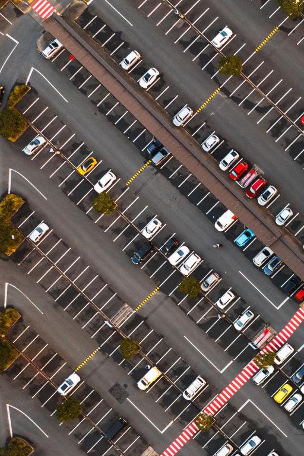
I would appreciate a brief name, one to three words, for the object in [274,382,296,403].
car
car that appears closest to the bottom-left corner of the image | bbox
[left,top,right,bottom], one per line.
[59,373,82,393]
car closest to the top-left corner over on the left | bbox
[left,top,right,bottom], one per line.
[43,39,63,59]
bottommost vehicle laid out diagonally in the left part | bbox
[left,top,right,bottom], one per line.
[107,417,128,438]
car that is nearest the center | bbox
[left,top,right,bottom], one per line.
[141,218,163,239]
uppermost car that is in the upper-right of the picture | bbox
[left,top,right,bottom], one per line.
[215,25,236,45]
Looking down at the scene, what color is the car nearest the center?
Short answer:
white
